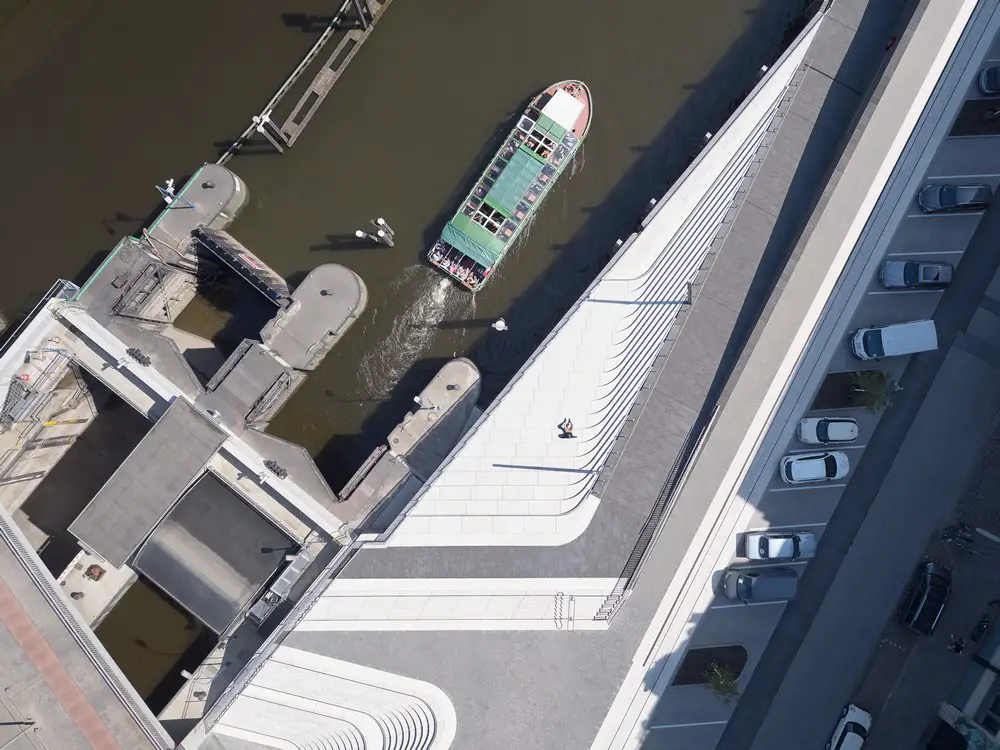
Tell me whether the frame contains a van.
Yes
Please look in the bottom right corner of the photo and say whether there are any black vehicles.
Yes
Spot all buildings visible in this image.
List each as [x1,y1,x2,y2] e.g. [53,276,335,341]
[66,396,234,568]
[898,615,1000,750]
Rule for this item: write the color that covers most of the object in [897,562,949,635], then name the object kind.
black car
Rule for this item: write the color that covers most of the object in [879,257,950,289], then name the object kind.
blue car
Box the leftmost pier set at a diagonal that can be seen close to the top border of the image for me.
[281,24,376,150]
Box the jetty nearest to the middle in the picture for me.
[388,357,481,471]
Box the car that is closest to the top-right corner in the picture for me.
[976,67,1000,97]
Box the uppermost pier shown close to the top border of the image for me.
[361,0,399,31]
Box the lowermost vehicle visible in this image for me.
[819,703,869,750]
